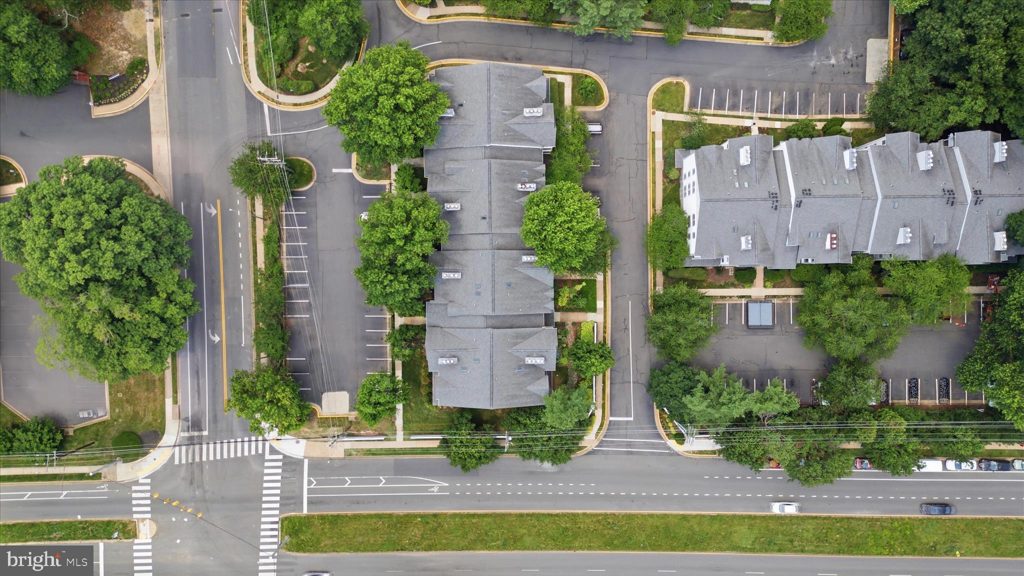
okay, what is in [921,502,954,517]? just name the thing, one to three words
car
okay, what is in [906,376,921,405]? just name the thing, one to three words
car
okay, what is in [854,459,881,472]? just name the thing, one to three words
vehicle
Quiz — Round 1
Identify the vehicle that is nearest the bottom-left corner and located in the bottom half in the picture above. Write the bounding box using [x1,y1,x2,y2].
[76,407,108,420]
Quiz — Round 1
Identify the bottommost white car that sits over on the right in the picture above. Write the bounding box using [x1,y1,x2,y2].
[770,501,799,515]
